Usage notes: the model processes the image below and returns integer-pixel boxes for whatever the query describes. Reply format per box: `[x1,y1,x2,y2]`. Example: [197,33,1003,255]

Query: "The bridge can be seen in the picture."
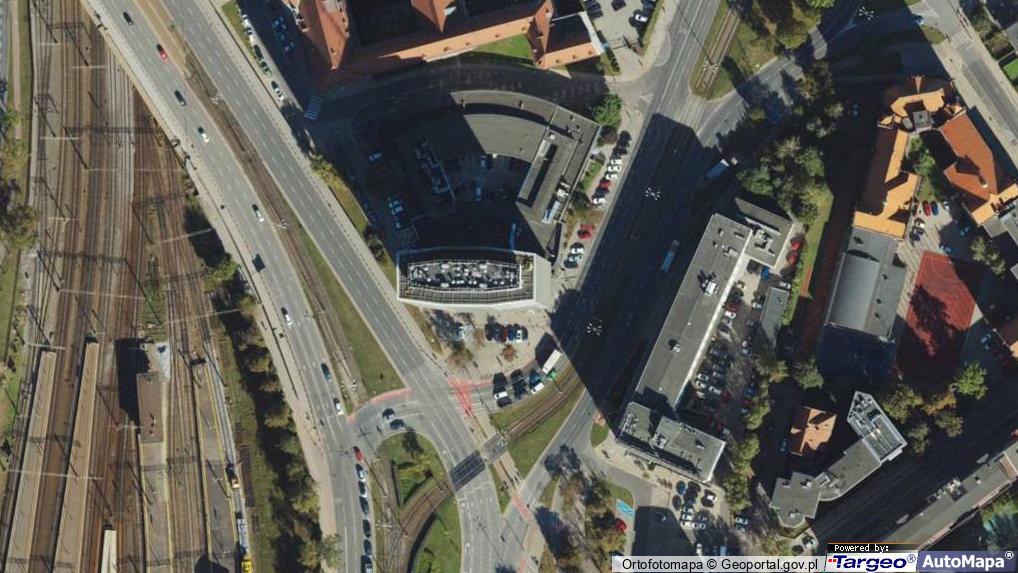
[81,0,224,212]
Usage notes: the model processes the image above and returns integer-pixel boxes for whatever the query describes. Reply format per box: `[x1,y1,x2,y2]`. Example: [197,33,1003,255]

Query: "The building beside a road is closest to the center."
[398,247,552,313]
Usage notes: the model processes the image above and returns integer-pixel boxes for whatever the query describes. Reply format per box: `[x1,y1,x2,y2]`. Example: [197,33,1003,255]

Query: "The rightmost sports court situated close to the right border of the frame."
[894,252,984,389]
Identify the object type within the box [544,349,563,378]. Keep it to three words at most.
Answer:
vehicle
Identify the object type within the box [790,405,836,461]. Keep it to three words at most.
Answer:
house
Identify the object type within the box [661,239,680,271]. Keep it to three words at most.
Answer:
vehicle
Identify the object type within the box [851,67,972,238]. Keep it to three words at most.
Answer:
building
